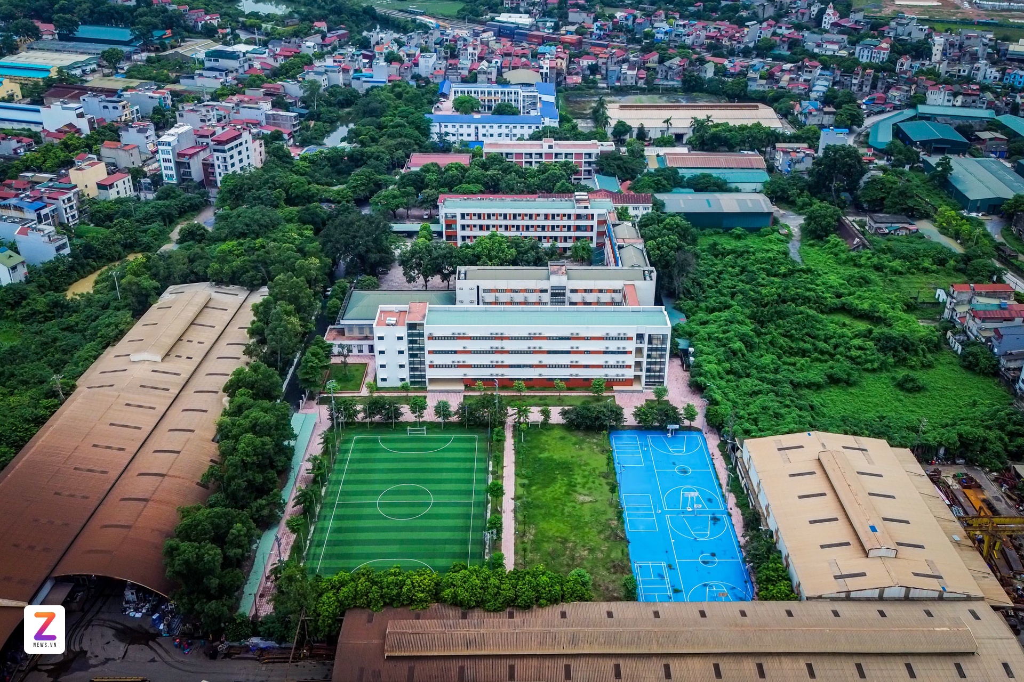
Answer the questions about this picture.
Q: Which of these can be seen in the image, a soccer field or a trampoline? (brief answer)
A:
soccer field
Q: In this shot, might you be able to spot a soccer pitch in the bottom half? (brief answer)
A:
Yes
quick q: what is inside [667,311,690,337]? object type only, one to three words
shed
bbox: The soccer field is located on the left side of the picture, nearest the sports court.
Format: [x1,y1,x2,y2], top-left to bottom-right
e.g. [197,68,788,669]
[297,428,489,597]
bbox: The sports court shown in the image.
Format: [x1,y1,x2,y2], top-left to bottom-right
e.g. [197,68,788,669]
[611,431,761,608]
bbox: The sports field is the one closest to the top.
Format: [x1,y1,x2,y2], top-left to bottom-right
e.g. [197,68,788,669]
[567,91,728,118]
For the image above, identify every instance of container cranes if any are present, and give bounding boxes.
[964,514,1024,547]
